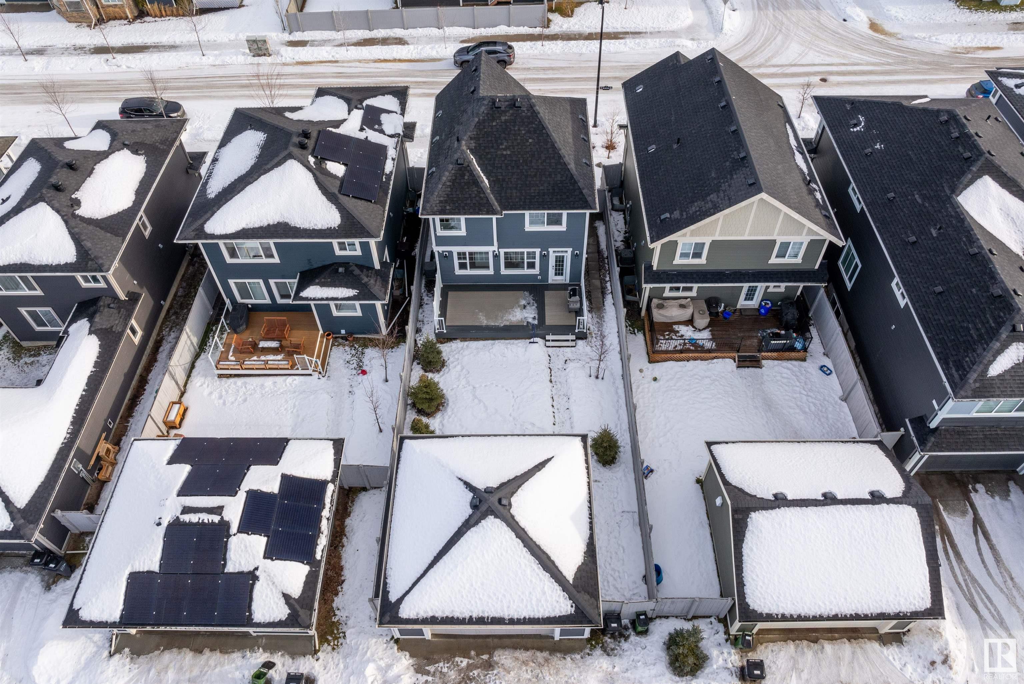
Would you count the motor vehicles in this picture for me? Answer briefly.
3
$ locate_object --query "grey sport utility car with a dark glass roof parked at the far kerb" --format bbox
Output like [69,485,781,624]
[455,37,518,70]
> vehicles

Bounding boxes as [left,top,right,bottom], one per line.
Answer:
[120,90,194,119]
[971,74,994,98]
[455,37,518,70]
